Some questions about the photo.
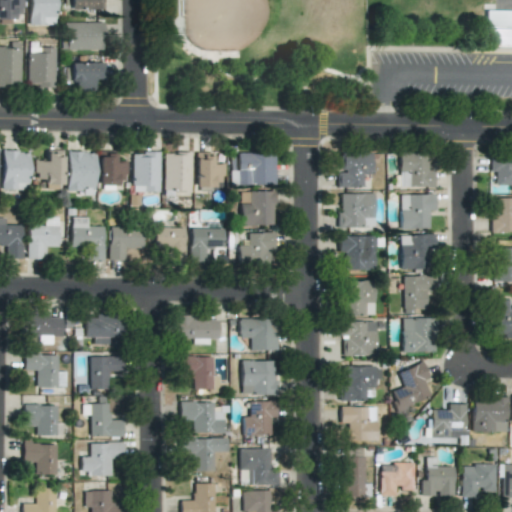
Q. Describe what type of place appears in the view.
residential area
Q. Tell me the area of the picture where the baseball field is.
top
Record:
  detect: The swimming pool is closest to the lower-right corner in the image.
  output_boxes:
[438,448,454,466]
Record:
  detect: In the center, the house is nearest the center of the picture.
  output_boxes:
[240,232,278,262]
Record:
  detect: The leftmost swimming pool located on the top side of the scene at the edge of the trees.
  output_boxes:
[100,192,122,206]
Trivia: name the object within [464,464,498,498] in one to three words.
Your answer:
house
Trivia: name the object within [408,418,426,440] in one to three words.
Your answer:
swimming pool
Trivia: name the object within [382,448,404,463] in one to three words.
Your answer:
swimming pool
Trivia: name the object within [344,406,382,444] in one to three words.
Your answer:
house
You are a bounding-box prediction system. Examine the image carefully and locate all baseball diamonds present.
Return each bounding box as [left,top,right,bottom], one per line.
[176,0,362,62]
